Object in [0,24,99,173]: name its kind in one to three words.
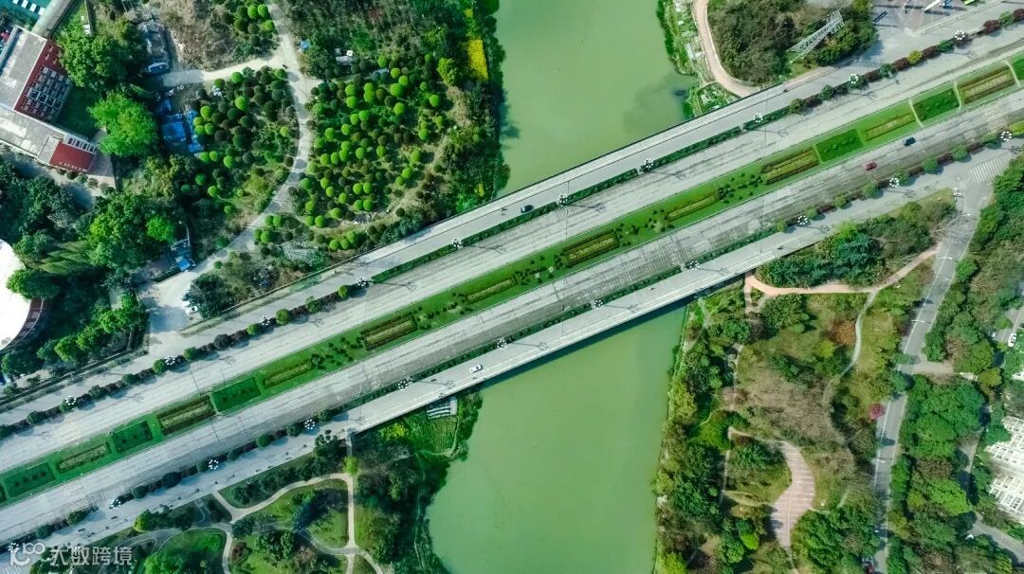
building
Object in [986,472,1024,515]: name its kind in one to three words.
building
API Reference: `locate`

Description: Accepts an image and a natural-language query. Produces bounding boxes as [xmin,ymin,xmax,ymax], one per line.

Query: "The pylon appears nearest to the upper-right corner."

[788,9,845,62]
